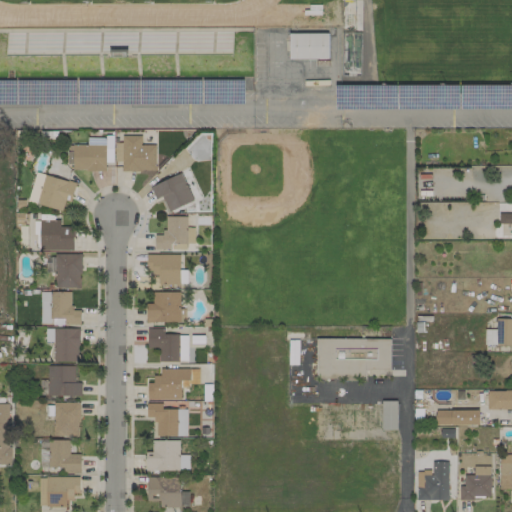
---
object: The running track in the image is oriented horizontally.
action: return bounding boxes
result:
[0,0,344,28]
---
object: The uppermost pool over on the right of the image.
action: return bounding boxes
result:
[434,388,454,403]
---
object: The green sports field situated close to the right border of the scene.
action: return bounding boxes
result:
[376,0,512,80]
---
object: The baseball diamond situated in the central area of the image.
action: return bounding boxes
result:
[214,128,408,327]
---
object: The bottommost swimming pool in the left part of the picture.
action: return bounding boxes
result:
[192,301,206,320]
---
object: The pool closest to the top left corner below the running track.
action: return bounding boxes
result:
[37,152,49,173]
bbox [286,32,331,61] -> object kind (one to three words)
building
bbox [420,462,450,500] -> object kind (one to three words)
house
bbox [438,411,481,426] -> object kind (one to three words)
house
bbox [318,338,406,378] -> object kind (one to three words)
building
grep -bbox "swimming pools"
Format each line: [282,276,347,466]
[194,266,206,285]
[434,388,454,403]
[21,256,32,278]
[192,301,206,320]
[37,152,49,173]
